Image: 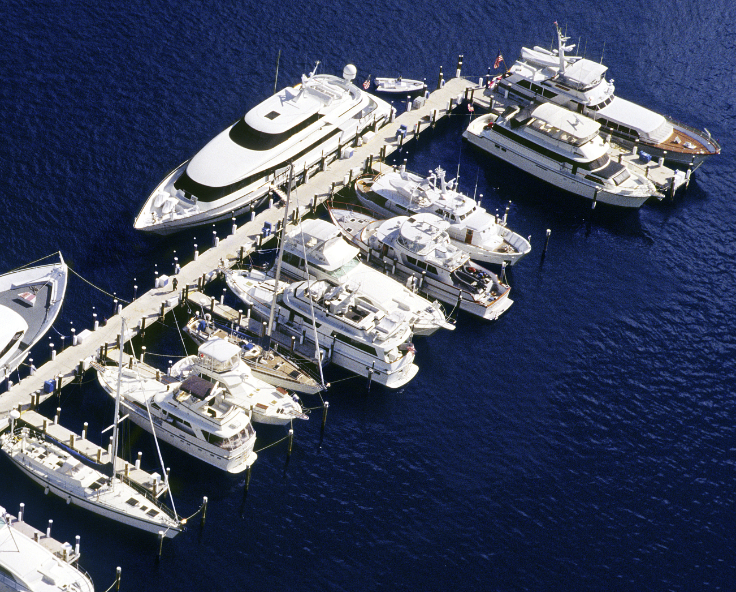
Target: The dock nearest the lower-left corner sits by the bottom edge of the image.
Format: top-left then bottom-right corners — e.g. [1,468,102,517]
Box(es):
[0,507,87,570]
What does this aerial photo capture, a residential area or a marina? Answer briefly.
marina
